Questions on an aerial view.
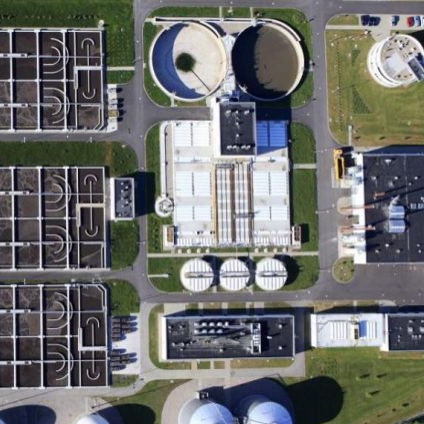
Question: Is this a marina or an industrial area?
industrial area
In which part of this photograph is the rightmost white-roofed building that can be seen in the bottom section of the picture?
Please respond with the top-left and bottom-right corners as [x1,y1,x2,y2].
[311,312,385,347]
